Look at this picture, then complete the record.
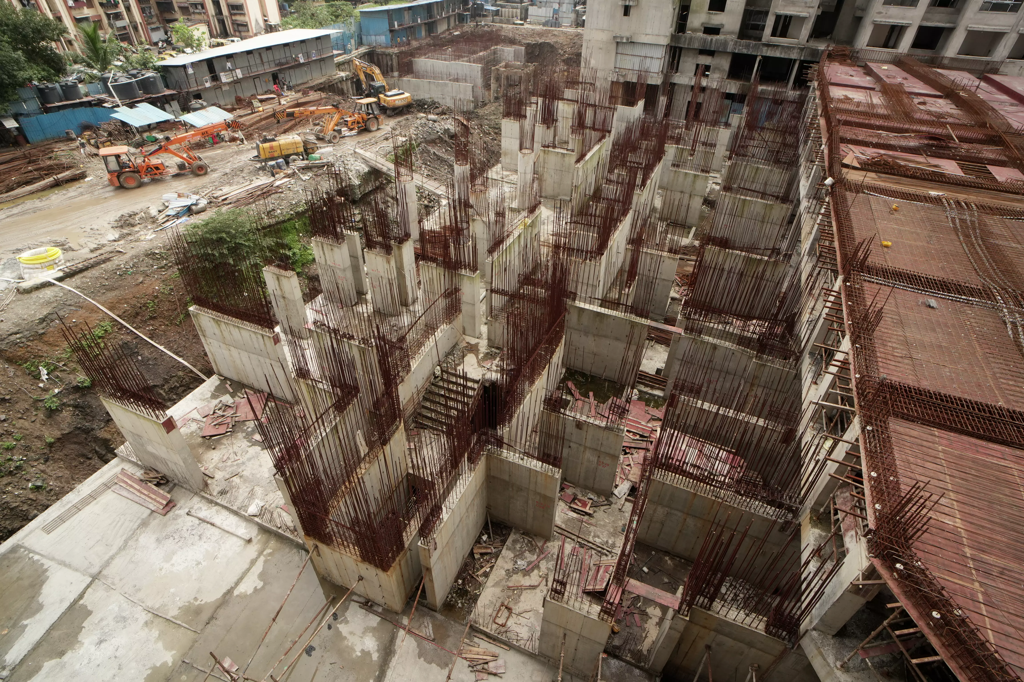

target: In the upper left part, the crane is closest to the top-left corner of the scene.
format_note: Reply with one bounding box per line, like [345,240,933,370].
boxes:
[95,120,243,189]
